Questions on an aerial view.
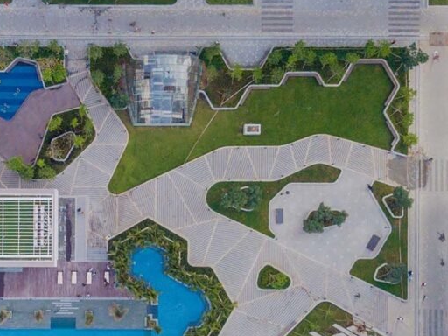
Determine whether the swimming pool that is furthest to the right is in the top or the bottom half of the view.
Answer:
bottom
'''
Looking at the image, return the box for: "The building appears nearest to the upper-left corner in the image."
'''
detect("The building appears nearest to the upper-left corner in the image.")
[126,54,201,125]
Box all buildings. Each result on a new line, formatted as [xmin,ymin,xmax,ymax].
[126,54,201,125]
[0,189,58,271]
